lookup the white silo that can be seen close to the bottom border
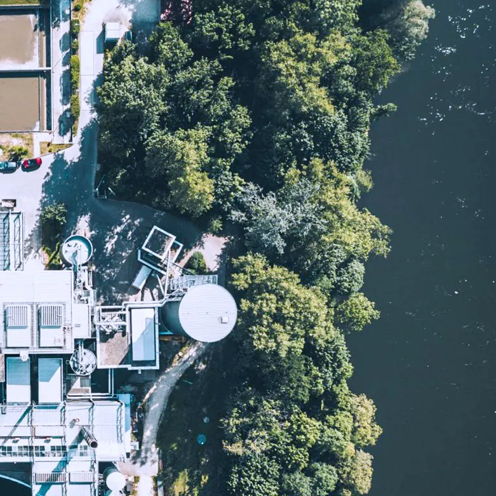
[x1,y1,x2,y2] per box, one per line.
[100,463,125,489]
